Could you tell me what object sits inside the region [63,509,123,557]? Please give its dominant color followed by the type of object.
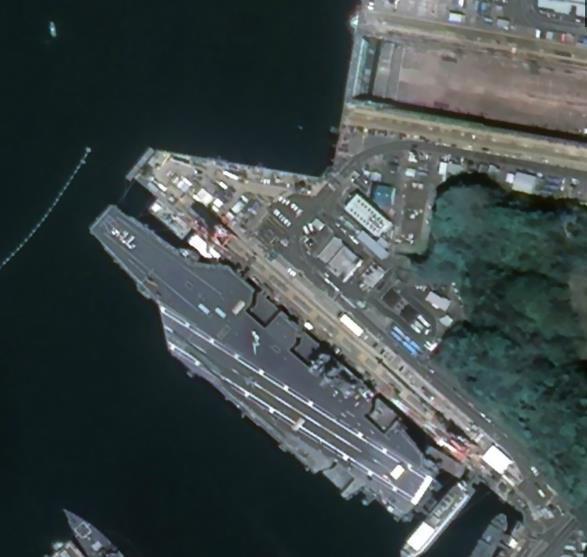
gray ship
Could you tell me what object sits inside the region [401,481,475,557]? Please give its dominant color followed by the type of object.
white ship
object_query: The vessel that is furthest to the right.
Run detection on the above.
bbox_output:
[470,513,507,557]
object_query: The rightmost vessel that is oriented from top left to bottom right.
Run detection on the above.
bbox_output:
[427,446,467,479]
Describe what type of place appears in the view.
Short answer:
port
